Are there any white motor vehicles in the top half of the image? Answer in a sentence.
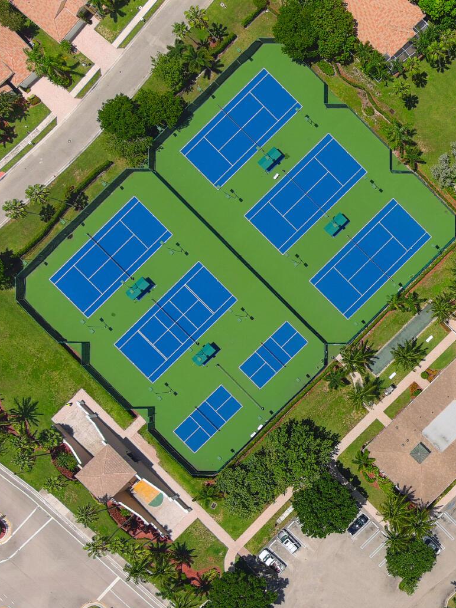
No, no white motor vehicle appears in the top half of the image.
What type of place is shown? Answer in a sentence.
What you see here is a sports ground.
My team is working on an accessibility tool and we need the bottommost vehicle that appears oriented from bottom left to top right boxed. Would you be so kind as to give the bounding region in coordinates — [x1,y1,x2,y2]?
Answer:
[348,513,370,534]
